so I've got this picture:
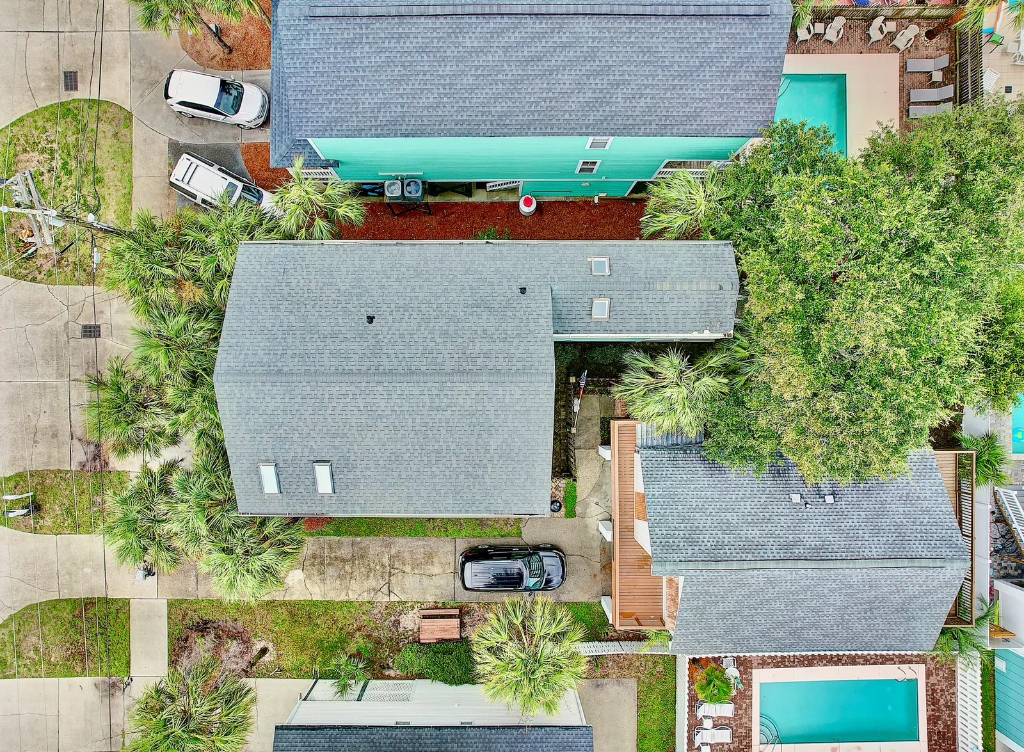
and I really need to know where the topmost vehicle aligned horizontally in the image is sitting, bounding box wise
[162,65,272,131]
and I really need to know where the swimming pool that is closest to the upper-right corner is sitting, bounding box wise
[737,54,899,270]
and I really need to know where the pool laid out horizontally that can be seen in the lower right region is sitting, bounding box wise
[752,664,929,752]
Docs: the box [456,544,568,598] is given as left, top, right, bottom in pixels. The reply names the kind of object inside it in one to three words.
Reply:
car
